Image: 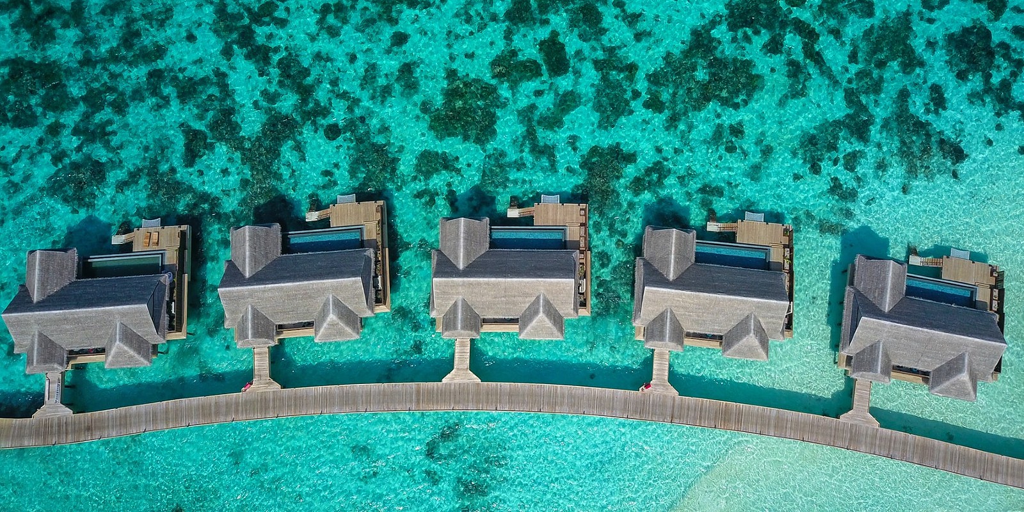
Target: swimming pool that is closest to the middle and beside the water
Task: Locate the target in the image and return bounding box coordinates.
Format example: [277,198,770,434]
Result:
[488,226,568,252]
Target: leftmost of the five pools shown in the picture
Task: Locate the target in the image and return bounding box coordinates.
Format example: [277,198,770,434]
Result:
[87,250,169,281]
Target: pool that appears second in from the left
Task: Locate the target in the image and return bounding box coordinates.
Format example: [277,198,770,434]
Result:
[286,226,366,256]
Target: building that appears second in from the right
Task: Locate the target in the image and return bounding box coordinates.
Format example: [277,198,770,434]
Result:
[631,213,794,361]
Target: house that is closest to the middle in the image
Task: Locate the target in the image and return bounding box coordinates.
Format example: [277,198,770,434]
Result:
[427,195,591,341]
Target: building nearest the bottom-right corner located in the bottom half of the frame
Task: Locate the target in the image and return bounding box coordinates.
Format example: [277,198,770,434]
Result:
[836,249,1008,402]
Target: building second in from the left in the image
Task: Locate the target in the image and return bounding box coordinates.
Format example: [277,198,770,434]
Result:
[218,195,391,348]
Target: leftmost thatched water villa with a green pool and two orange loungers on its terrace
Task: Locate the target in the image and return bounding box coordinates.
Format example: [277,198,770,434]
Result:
[1,219,194,374]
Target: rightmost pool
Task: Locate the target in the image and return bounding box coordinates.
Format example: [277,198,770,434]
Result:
[904,273,977,310]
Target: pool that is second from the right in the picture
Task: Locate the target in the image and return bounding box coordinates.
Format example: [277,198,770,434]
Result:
[694,240,771,271]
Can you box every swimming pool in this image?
[694,240,771,271]
[286,226,366,256]
[87,250,169,281]
[488,226,568,252]
[904,273,977,310]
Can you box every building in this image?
[427,195,591,341]
[1,219,194,374]
[631,213,794,361]
[218,195,391,348]
[836,249,1008,402]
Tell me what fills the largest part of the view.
water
